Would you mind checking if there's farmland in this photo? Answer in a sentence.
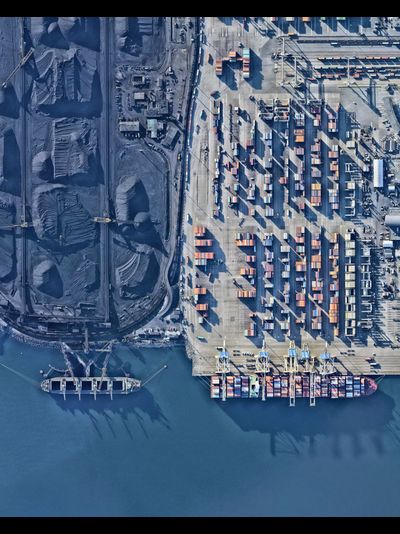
No, there's no farmland in this view.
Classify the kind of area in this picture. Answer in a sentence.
The area seen from above is a port.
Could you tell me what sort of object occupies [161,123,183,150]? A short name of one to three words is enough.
building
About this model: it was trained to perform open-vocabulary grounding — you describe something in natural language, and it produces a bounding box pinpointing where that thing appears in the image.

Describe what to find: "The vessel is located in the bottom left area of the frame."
[41,377,141,401]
